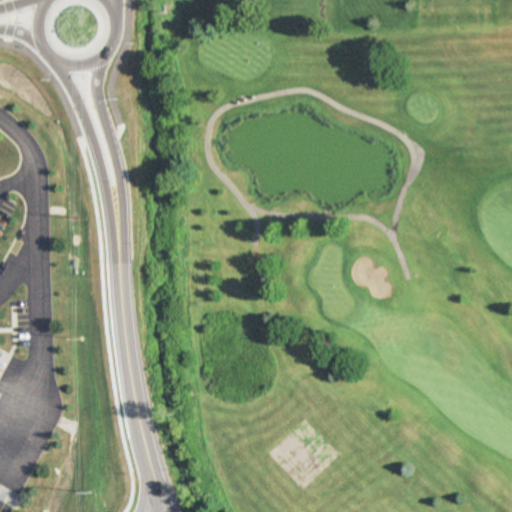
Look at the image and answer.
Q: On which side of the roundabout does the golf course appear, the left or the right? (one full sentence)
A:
Relative to the roundabout, the golf course is on the right.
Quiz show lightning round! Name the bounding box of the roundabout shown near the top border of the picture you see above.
[0,0,123,187]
